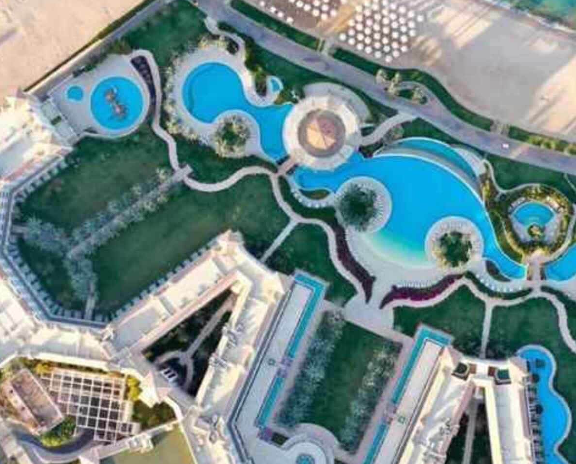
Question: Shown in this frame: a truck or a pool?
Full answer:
Of the two, only a pool appears.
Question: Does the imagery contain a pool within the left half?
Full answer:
Yes, you'll find a pool within the left half.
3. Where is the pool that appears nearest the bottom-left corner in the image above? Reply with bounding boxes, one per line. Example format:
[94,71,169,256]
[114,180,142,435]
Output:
[256,377,285,426]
